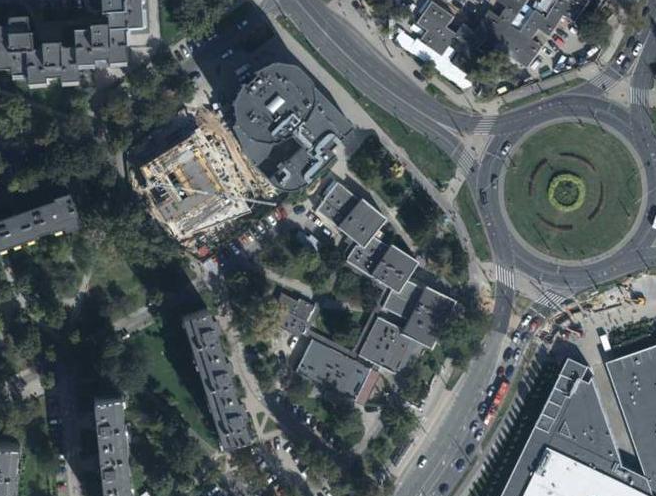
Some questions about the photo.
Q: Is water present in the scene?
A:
No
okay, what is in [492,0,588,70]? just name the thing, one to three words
building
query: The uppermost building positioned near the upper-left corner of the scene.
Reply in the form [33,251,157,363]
[0,0,149,88]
